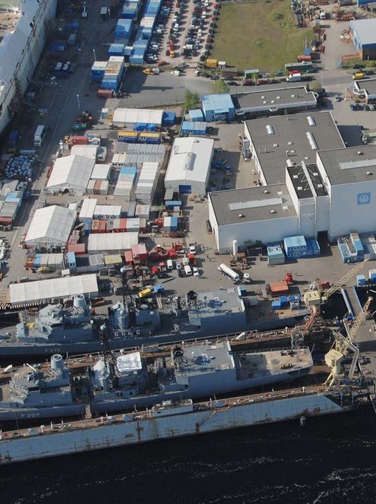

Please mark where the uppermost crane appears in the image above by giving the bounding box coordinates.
[295,264,367,339]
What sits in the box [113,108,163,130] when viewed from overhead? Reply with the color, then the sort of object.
white tent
